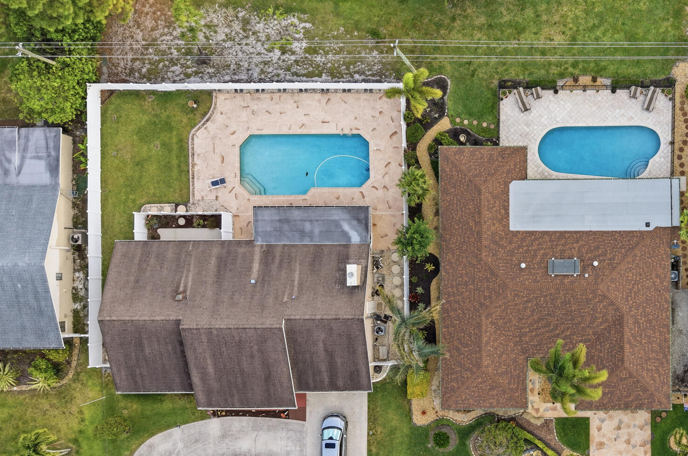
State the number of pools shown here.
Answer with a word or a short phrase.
2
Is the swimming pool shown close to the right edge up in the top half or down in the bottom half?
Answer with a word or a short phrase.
top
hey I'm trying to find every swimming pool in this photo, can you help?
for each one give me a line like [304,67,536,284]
[532,119,666,179]
[236,130,374,199]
